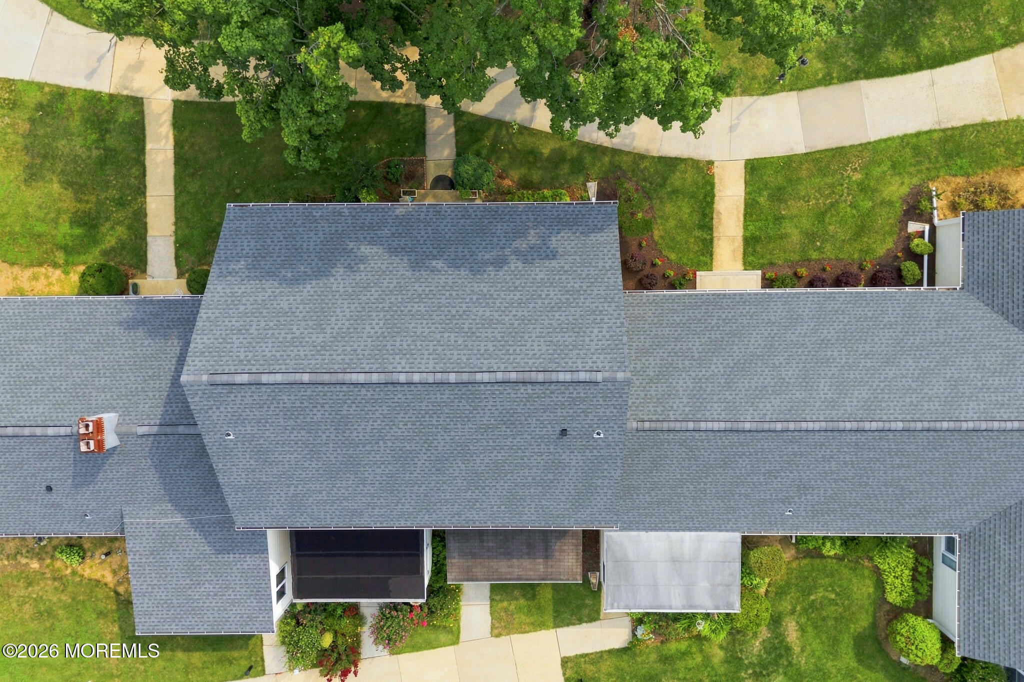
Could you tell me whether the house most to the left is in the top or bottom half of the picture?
bottom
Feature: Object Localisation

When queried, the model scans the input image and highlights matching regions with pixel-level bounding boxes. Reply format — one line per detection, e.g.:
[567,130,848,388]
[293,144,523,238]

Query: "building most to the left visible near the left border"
[0,295,294,636]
